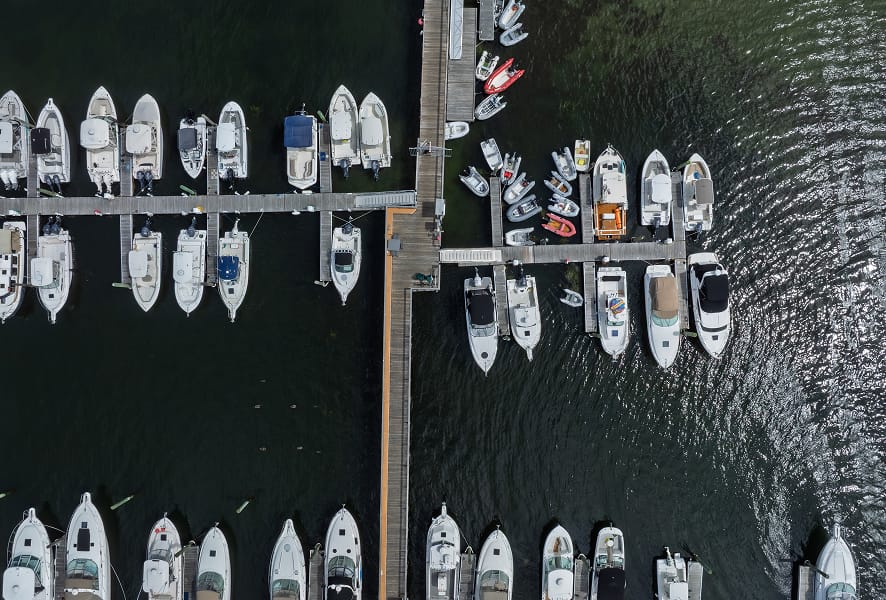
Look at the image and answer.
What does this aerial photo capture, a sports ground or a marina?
marina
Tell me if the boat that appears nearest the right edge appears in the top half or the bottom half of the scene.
bottom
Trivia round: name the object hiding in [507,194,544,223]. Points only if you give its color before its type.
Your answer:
gray boat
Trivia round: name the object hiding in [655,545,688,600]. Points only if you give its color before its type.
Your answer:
white boat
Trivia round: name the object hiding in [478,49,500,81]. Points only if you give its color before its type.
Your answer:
white boat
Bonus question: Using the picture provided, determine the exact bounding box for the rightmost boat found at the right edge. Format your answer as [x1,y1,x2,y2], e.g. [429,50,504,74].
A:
[811,524,859,600]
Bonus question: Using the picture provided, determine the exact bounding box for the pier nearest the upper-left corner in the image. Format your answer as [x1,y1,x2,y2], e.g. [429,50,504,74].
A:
[28,127,42,197]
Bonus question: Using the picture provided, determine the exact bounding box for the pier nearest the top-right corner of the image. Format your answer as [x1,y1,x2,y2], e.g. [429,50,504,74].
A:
[670,171,684,241]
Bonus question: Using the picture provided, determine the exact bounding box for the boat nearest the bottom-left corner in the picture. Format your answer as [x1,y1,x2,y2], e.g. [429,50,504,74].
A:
[3,506,55,600]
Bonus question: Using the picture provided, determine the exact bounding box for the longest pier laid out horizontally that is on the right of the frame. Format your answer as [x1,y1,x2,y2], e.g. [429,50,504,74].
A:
[459,240,686,265]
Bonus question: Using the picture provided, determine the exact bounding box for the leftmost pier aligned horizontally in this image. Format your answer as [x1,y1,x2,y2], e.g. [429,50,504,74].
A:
[0,194,363,216]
